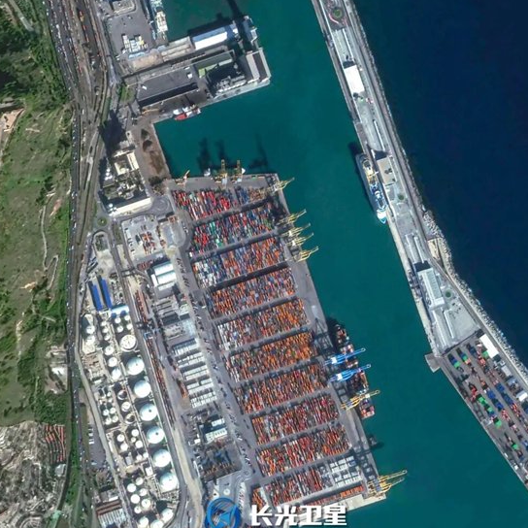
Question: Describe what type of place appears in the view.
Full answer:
The picture captures a port.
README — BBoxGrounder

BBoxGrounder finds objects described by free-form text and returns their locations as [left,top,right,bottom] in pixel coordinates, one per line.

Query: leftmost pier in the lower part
[294,490,384,525]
